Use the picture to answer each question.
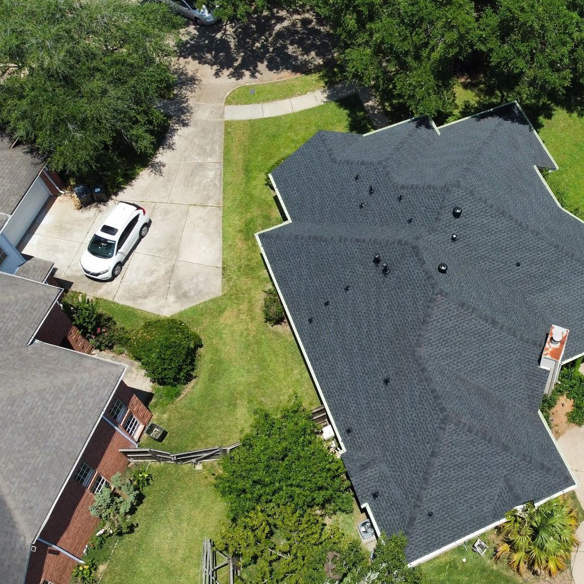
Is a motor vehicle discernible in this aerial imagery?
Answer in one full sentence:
Yes, there is a motor vehicle in the image.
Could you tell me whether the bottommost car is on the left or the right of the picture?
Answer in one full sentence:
The bottommost car sits on the left side.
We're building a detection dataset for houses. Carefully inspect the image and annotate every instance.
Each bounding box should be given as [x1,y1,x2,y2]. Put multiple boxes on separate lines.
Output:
[0,131,167,584]
[253,99,584,564]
